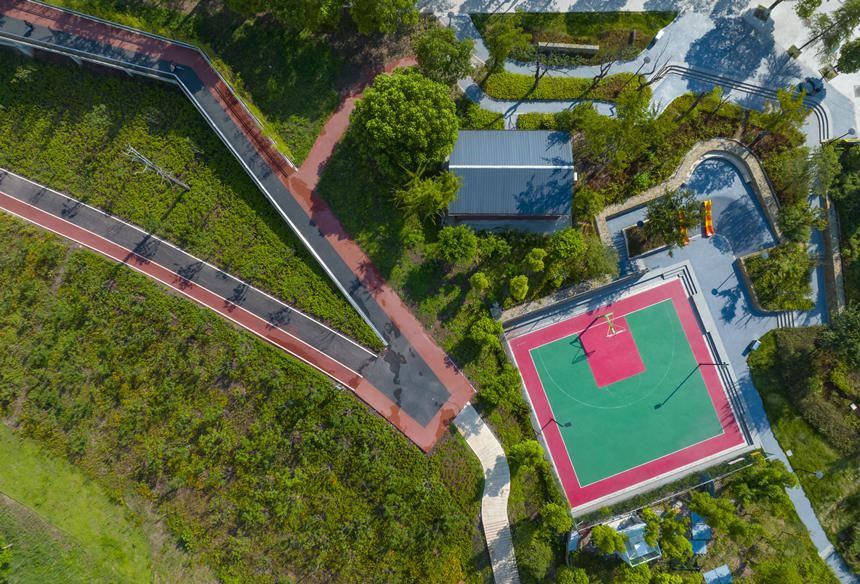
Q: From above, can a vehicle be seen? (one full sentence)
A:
No, no vehicle is visible in the scene.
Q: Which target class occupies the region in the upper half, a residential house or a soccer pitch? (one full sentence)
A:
Looking in the upper half, you will find a residential house.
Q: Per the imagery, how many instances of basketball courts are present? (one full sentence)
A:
My tally gives 1 basketball court in this photo.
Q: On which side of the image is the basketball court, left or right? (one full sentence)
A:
The basketball court is on the right side of the image.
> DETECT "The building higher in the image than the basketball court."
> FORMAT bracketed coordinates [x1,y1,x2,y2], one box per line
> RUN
[448,129,576,219]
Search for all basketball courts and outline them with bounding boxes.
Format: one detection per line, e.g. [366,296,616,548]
[508,278,747,514]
